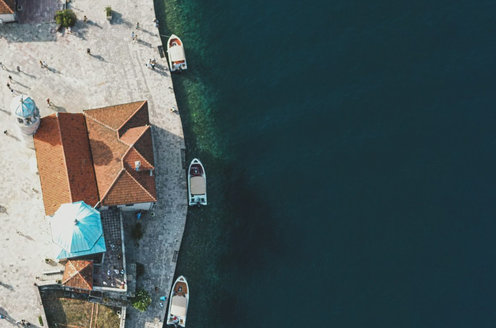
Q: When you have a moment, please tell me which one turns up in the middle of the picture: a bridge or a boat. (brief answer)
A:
boat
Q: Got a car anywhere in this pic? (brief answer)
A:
No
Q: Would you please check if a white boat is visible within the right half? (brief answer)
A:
No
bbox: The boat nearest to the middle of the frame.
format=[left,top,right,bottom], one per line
[188,158,207,208]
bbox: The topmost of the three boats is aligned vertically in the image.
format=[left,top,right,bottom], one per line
[167,33,187,74]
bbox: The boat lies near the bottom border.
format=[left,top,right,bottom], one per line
[168,276,190,328]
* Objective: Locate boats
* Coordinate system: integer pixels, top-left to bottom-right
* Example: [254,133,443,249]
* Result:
[168,276,190,328]
[188,158,207,208]
[167,33,187,74]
